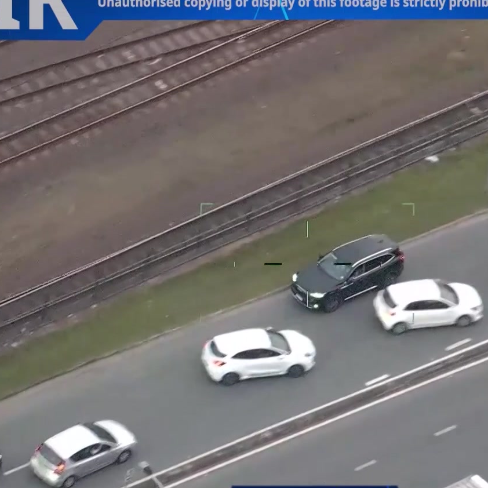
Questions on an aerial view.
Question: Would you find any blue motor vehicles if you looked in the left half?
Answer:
No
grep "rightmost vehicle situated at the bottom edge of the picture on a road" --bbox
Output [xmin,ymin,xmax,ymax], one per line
[28,415,137,488]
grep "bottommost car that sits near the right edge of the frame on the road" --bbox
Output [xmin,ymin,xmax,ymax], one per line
[374,273,481,335]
